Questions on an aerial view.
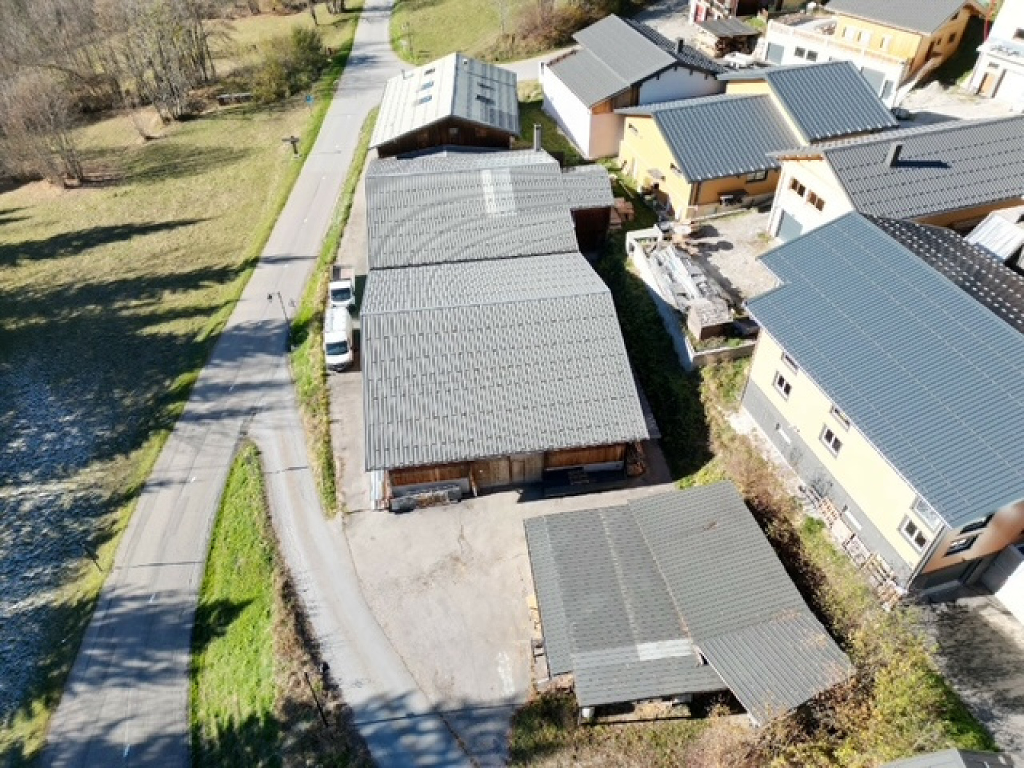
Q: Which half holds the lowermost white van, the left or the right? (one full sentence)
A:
You can find the lowermost white van on the left side of the picture.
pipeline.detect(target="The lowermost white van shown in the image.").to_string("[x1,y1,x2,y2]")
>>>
[320,303,355,369]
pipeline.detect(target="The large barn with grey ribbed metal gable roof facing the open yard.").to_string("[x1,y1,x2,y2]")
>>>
[360,251,652,513]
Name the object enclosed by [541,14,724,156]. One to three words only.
house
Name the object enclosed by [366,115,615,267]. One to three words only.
barn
